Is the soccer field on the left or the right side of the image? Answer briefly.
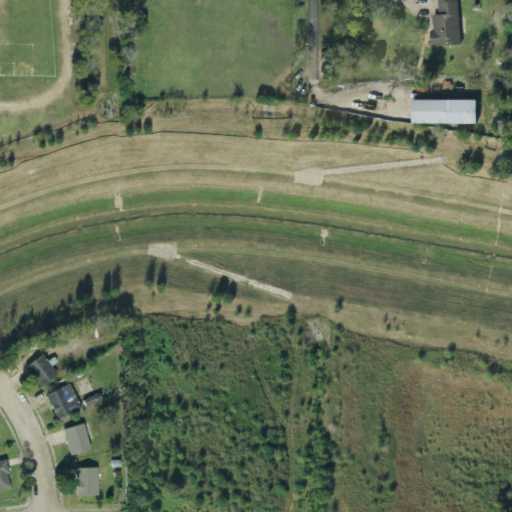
left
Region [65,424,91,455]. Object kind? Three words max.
house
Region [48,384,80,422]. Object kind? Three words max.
house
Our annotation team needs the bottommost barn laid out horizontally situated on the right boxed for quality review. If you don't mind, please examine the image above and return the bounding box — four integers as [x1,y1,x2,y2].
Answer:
[412,98,482,124]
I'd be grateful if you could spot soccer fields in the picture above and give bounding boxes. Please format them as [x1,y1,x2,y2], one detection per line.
[0,0,56,76]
